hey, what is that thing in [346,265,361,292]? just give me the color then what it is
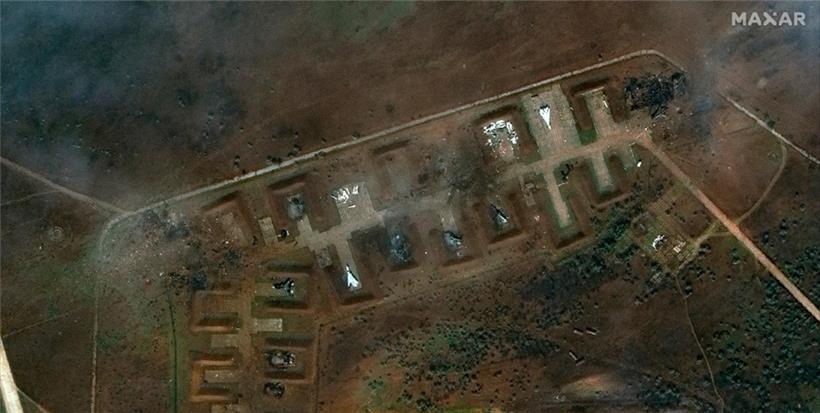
white airplane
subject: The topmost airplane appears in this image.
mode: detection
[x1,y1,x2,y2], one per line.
[538,104,552,130]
